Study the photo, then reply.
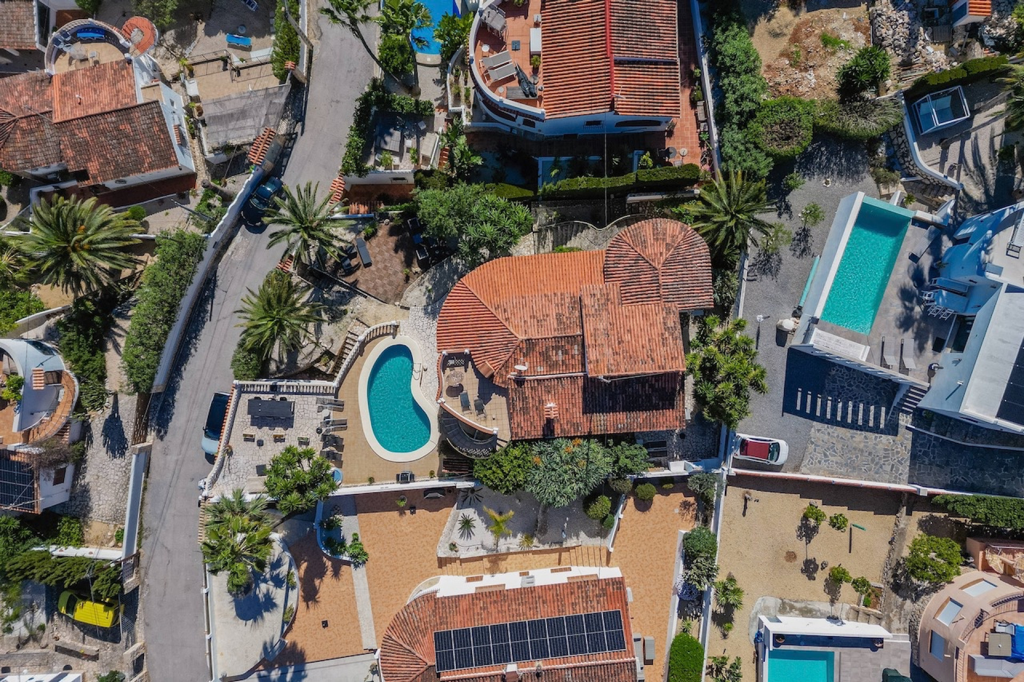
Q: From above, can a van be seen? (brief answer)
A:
Yes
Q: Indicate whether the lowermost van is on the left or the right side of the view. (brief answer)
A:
left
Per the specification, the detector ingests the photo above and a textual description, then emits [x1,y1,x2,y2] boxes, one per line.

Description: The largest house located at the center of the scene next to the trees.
[436,217,715,457]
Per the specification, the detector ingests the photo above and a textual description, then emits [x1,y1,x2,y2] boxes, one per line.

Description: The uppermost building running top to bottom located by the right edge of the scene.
[922,199,1024,431]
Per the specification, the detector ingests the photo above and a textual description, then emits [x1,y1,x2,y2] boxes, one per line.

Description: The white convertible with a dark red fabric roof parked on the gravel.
[733,437,792,468]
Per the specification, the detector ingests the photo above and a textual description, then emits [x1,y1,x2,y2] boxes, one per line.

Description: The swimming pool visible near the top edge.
[411,0,460,66]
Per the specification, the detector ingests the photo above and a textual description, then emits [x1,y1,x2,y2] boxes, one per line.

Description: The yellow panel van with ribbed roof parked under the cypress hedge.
[55,592,121,634]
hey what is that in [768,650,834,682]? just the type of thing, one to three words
swimming pool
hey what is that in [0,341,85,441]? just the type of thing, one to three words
house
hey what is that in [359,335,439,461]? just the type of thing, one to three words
swimming pool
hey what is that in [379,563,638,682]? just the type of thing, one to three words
house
